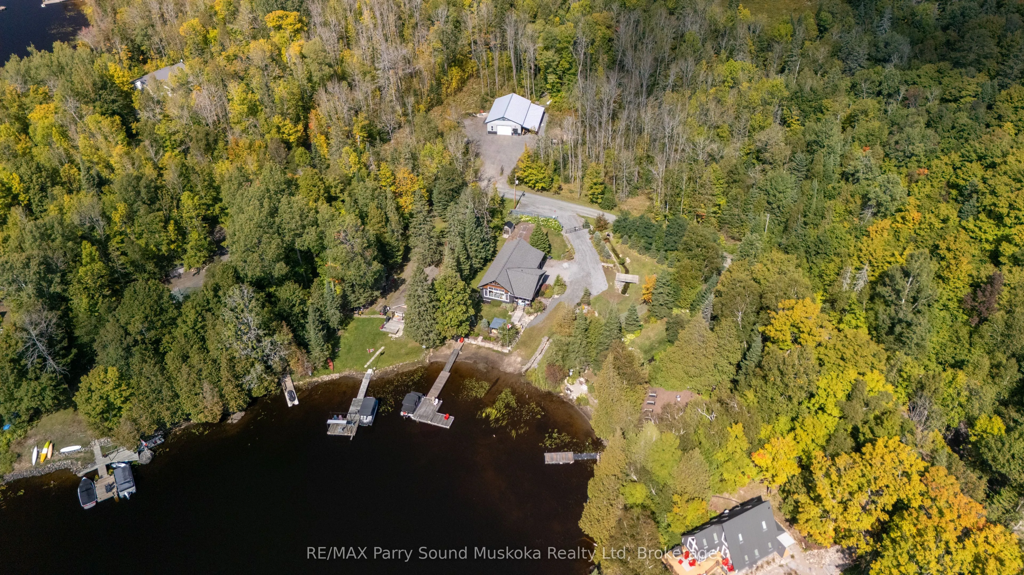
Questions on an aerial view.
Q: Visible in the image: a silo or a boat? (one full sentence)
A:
I can see a boat in this picture.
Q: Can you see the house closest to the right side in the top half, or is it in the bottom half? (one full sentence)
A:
You can find the house closest to the right side in the bottom half.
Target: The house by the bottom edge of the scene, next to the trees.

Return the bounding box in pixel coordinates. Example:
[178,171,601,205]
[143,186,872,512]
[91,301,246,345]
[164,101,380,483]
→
[673,495,796,575]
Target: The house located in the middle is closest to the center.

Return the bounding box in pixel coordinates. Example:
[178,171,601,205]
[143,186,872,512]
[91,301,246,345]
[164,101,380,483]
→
[476,236,547,313]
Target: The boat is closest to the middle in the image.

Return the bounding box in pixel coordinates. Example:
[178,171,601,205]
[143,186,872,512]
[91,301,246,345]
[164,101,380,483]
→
[400,390,425,424]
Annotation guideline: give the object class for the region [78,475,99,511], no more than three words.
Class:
boat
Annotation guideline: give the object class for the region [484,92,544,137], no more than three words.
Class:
building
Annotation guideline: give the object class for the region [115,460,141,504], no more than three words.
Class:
boat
